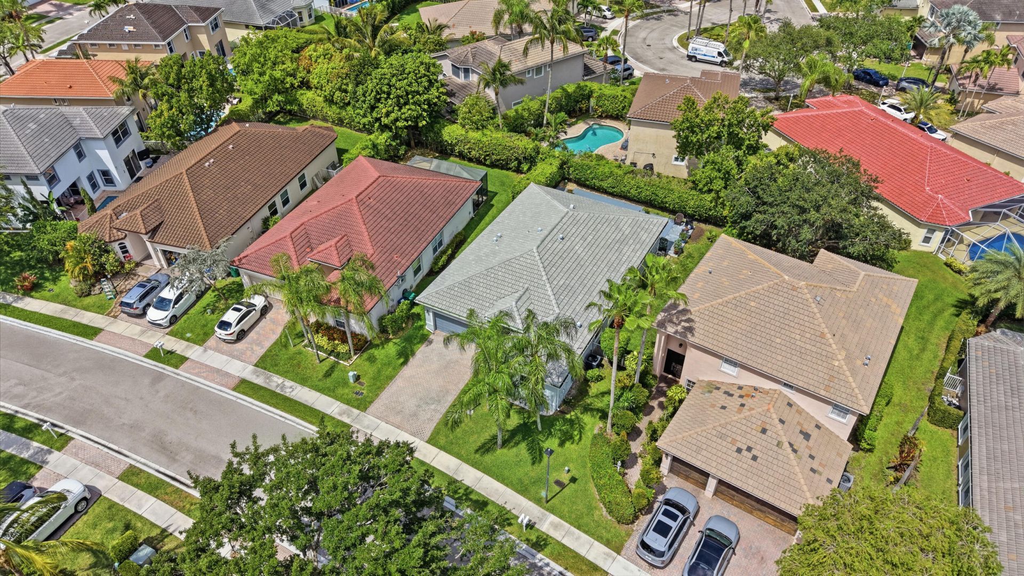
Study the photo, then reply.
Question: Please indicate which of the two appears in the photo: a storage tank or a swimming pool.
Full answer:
The one in the frame is a swimming pool.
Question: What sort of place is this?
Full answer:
The picture captures a residential area.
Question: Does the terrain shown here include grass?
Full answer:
Yes, grass shows up in the scene.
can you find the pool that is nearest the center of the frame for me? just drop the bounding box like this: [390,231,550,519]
[560,122,625,161]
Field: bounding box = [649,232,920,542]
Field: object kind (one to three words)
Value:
house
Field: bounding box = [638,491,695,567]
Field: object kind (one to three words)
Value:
car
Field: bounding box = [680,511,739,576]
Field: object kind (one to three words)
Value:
car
